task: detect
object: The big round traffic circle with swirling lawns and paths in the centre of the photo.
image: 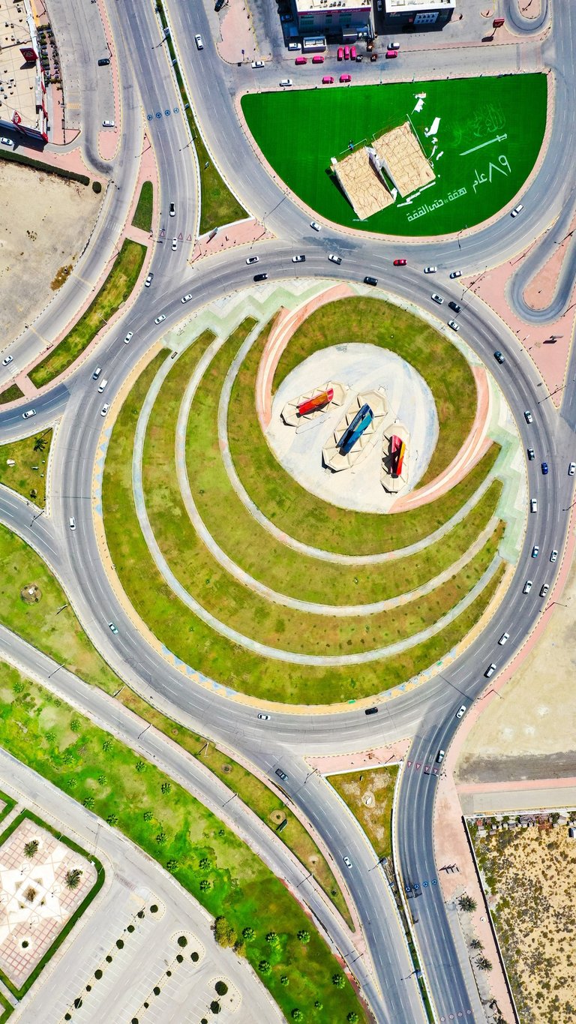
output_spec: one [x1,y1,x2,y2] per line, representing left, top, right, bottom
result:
[49,234,572,758]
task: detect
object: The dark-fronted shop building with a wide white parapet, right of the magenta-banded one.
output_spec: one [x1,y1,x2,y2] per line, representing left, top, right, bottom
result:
[381,0,455,28]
